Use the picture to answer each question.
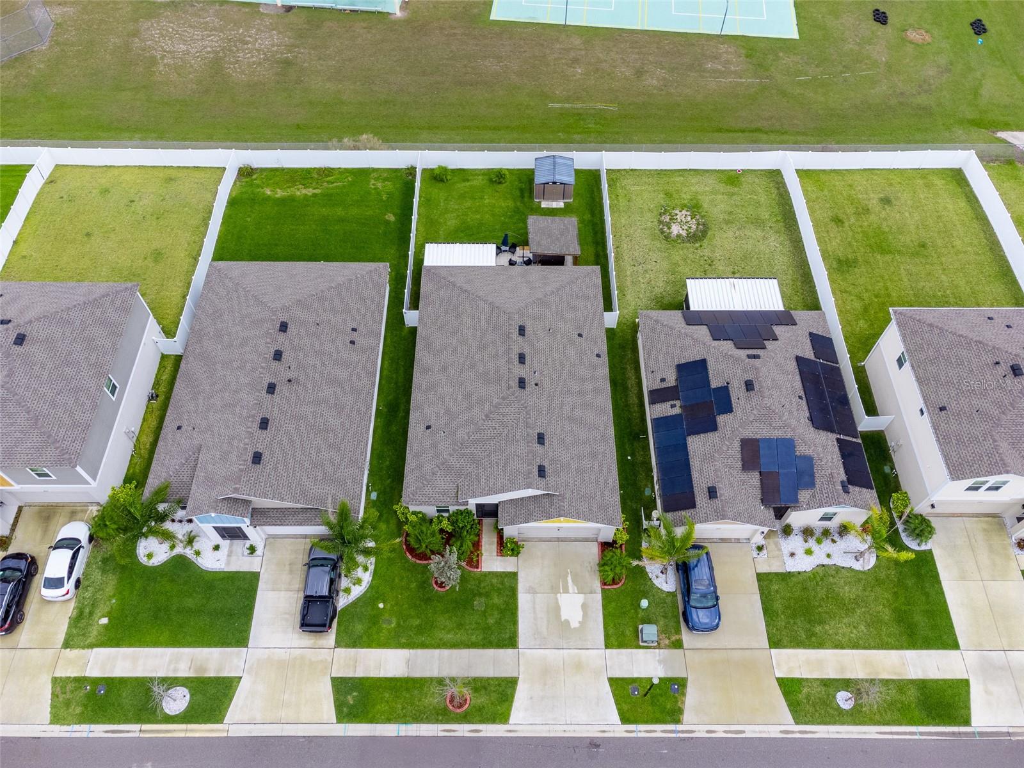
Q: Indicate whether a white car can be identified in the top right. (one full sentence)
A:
No, I see no white car in the top right.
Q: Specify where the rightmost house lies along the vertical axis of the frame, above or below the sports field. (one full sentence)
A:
The rightmost house appears below the sports field in the picture.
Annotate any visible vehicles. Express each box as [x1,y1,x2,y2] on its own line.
[0,549,38,636]
[38,523,93,604]
[675,542,722,632]
[301,539,345,634]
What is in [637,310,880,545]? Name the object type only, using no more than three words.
house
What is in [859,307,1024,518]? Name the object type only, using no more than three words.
house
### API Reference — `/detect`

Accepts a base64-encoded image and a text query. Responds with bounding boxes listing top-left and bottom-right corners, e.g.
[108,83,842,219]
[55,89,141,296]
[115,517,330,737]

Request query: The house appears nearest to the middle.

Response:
[401,265,622,543]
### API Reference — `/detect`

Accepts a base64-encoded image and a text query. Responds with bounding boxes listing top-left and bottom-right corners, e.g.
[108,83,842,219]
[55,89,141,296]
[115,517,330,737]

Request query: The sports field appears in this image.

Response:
[0,0,1024,160]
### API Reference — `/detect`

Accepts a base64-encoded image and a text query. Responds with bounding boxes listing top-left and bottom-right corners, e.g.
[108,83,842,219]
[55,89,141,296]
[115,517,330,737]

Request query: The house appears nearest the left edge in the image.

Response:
[0,285,162,536]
